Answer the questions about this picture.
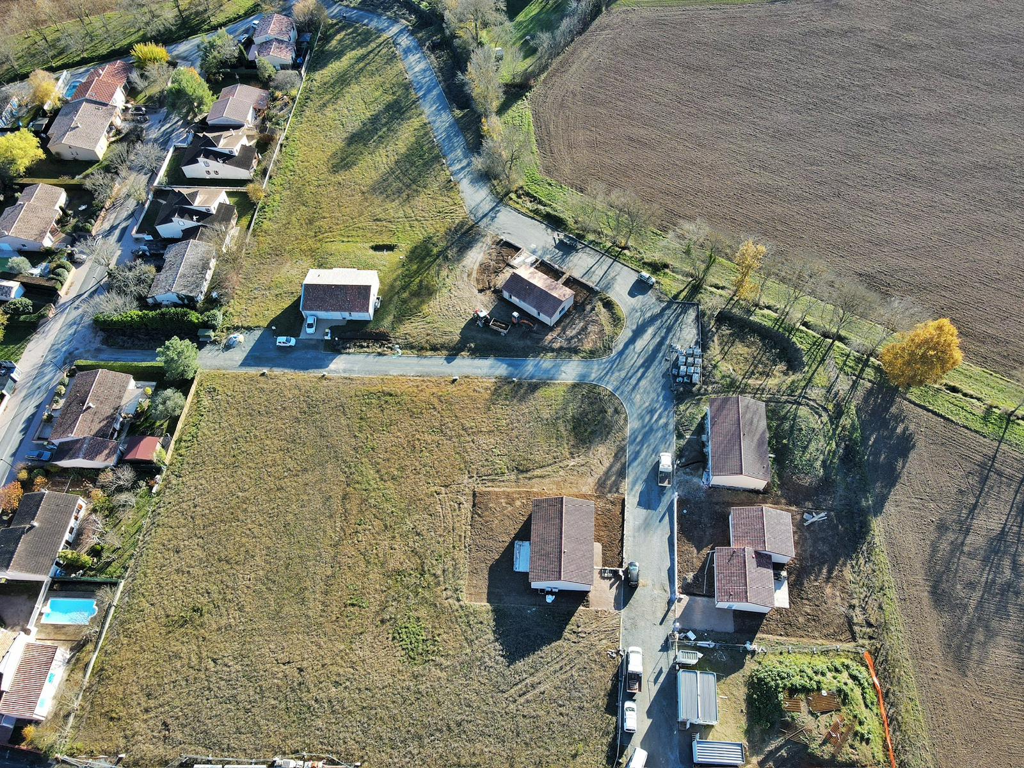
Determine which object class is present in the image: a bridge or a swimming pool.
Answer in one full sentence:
Visible in the photo is a swimming pool.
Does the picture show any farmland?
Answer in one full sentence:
Yes, some farmland is visible.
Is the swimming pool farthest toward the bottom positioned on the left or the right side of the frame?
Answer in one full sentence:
You can find the swimming pool farthest toward the bottom on the left side of the picture.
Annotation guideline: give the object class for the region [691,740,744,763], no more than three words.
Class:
building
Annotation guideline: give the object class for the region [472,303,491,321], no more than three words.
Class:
work vehicle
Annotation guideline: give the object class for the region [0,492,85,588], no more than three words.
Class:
house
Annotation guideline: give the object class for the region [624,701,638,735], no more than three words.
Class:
car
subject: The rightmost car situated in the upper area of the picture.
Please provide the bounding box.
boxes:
[636,270,658,287]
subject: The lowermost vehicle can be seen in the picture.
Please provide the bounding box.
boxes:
[628,745,649,768]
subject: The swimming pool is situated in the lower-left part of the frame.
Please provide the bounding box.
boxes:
[40,599,99,624]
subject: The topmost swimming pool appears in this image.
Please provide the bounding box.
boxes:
[64,82,79,97]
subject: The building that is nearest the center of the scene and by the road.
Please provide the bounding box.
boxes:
[502,264,574,332]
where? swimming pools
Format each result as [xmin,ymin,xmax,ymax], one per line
[64,82,79,97]
[40,599,99,624]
